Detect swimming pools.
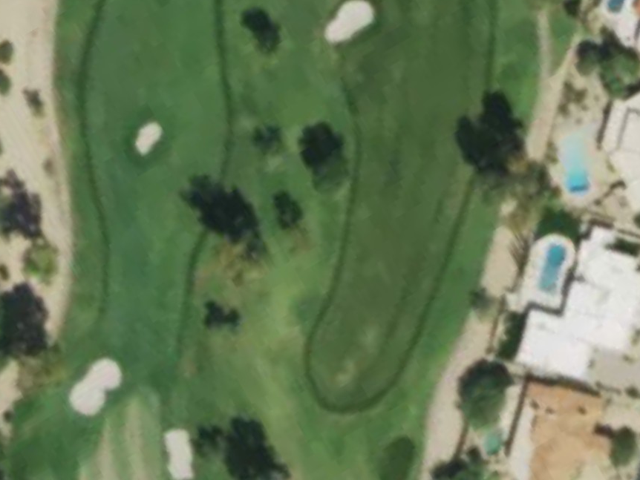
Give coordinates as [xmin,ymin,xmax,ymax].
[483,432,502,454]
[560,132,590,195]
[538,241,569,293]
[606,0,625,14]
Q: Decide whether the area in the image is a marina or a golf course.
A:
golf course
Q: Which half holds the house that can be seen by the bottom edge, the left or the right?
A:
right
